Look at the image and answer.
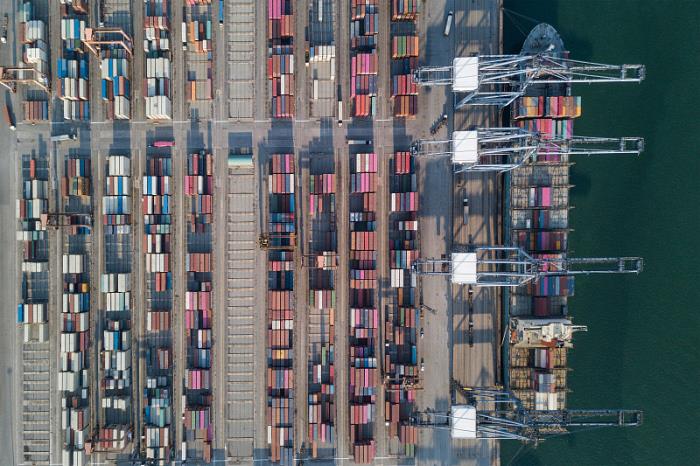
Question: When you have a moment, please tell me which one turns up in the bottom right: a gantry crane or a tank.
gantry crane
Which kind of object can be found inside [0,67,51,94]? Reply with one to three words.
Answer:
container crane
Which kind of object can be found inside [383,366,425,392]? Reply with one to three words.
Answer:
container crane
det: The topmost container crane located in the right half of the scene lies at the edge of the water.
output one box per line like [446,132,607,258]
[407,51,649,118]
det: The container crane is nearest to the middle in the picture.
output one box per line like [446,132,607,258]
[297,251,339,270]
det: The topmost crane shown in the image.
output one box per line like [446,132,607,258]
[79,27,134,57]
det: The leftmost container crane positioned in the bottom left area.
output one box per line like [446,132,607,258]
[79,424,134,454]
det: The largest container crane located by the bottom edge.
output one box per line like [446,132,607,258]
[407,370,649,445]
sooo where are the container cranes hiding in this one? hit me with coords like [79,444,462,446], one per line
[383,366,425,392]
[0,67,51,94]
[253,233,297,251]
[34,211,93,230]
[407,51,649,118]
[407,128,649,180]
[297,251,339,270]
[79,27,134,57]
[79,424,134,454]
[407,241,649,286]
[407,370,649,445]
